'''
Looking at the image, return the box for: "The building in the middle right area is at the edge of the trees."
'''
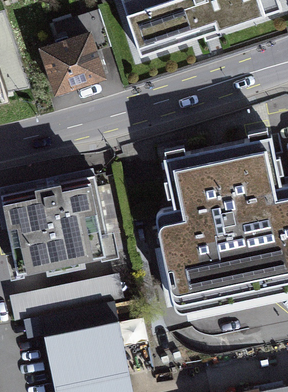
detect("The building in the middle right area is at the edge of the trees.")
[156,130,288,322]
